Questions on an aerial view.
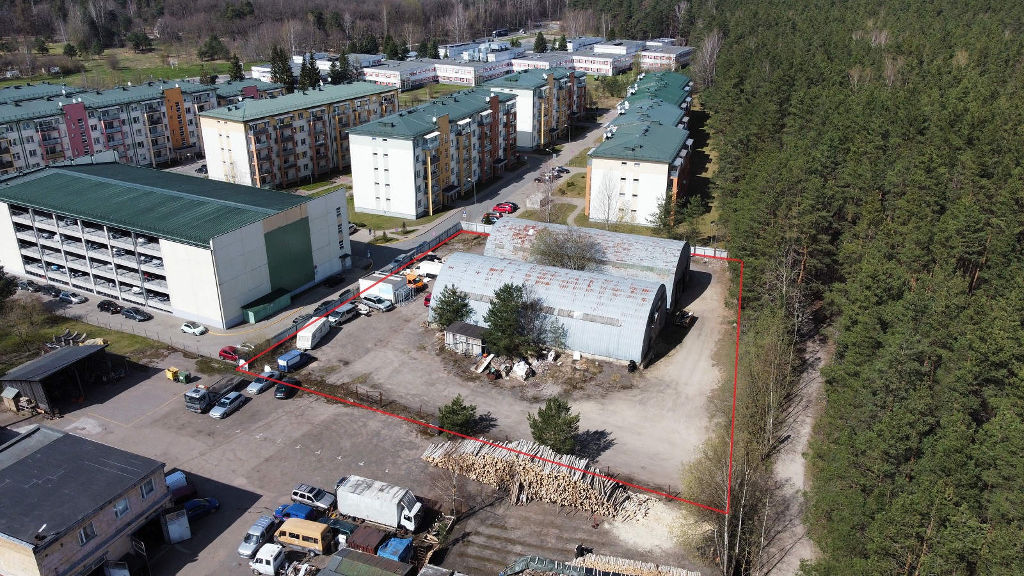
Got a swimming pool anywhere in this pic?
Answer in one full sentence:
No, I can see no swimming pool in this picture.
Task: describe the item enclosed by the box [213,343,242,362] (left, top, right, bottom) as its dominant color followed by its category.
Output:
red car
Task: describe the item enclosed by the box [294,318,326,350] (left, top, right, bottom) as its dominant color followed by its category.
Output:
white camper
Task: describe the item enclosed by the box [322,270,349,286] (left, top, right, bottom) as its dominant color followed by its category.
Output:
black car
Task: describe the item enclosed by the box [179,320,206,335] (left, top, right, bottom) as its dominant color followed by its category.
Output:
white car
